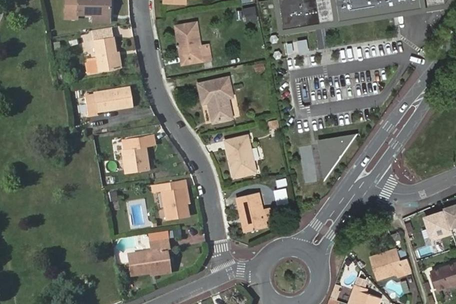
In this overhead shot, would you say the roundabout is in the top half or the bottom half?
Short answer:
bottom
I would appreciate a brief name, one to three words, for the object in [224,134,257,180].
house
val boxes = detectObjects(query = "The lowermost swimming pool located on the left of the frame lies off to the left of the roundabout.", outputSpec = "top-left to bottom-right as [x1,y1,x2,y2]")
[116,236,138,252]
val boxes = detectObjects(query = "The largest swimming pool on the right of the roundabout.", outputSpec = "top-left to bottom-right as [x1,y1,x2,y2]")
[384,278,403,296]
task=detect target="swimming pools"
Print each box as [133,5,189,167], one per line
[130,204,145,226]
[106,161,118,172]
[418,245,433,258]
[384,278,403,296]
[116,236,138,252]
[344,272,358,286]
